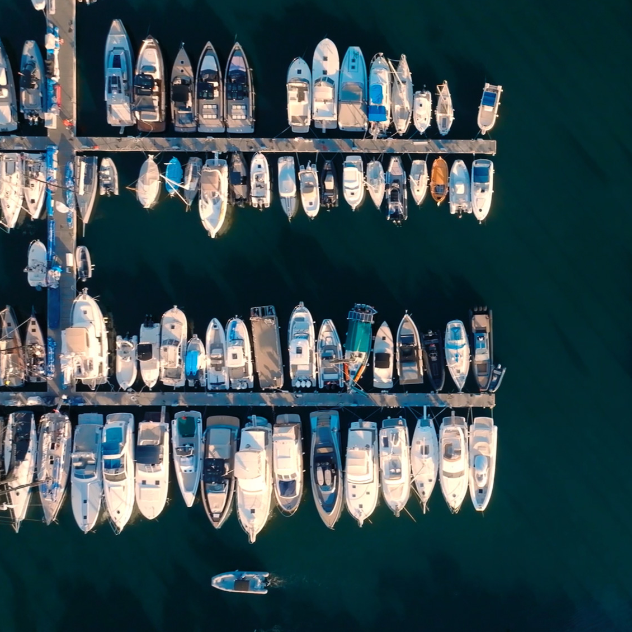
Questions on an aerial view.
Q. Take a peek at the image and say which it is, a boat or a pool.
boat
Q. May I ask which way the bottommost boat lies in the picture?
from left to right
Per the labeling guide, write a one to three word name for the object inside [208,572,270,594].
boat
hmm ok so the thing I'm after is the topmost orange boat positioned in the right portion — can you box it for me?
[428,153,450,206]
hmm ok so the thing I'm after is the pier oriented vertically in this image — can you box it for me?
[47,0,77,392]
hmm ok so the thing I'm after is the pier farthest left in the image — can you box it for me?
[0,135,47,151]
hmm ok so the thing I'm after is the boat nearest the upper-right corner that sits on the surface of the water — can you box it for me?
[474,81,503,139]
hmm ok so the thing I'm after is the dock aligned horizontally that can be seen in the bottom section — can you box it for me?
[0,392,496,407]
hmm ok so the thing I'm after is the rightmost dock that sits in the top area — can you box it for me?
[76,136,496,154]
